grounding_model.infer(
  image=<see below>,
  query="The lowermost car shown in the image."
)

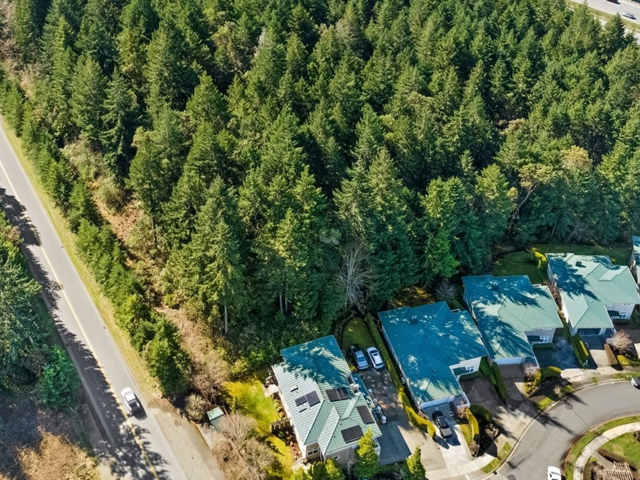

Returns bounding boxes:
[543,464,560,480]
